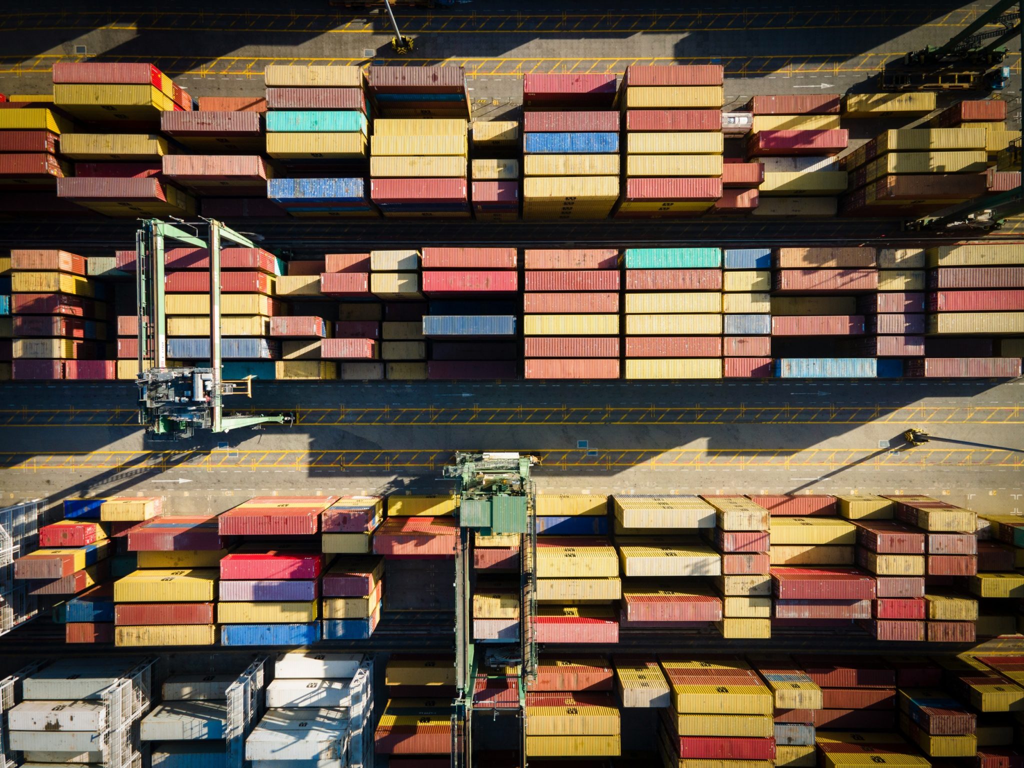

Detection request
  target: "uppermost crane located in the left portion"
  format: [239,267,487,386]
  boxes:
[130,202,294,447]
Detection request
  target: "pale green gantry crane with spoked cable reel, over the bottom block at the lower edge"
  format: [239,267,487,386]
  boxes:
[449,639,538,768]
